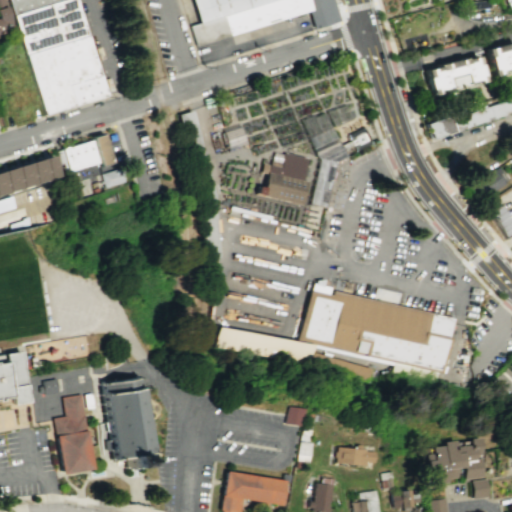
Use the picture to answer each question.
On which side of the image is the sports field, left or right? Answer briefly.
left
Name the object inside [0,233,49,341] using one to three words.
sports field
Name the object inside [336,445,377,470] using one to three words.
house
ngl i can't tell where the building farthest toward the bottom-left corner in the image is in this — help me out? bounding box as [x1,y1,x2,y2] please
[58,431,97,474]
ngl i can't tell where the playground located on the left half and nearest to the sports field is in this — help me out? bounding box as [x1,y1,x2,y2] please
[26,336,88,362]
